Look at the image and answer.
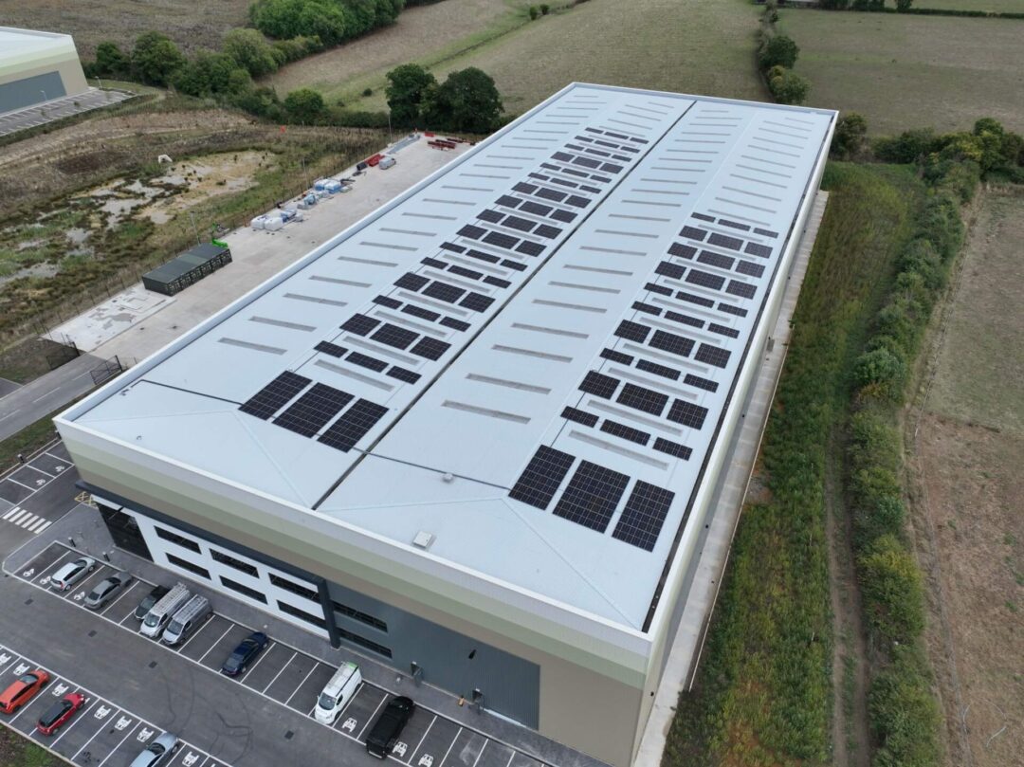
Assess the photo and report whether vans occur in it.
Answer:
Yes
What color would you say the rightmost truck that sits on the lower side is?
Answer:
black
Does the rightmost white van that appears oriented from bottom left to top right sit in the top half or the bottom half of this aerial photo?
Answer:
bottom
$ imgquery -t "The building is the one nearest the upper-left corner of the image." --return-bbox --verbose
[0,22,91,114]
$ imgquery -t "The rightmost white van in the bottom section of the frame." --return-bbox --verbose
[314,659,367,728]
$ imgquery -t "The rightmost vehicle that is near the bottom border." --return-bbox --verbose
[356,692,409,761]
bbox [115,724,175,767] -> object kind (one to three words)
car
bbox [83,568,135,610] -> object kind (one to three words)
car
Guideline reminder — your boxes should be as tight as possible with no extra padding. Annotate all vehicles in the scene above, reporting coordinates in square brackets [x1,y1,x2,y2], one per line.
[83,568,135,610]
[127,583,169,623]
[158,591,213,650]
[50,556,97,592]
[314,659,367,728]
[0,666,50,717]
[219,628,270,678]
[29,688,83,737]
[115,724,175,767]
[137,581,191,641]
[356,692,409,761]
